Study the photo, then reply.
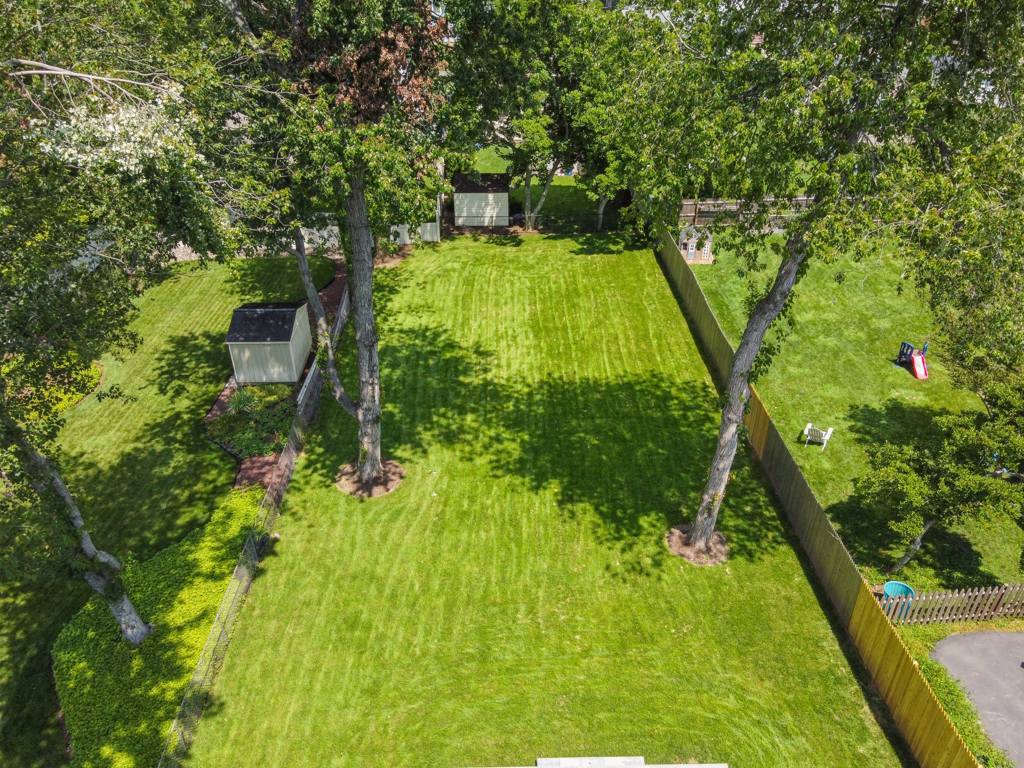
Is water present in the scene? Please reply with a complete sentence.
No, there's no water in this view.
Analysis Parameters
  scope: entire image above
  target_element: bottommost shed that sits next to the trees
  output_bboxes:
[226,301,316,381]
